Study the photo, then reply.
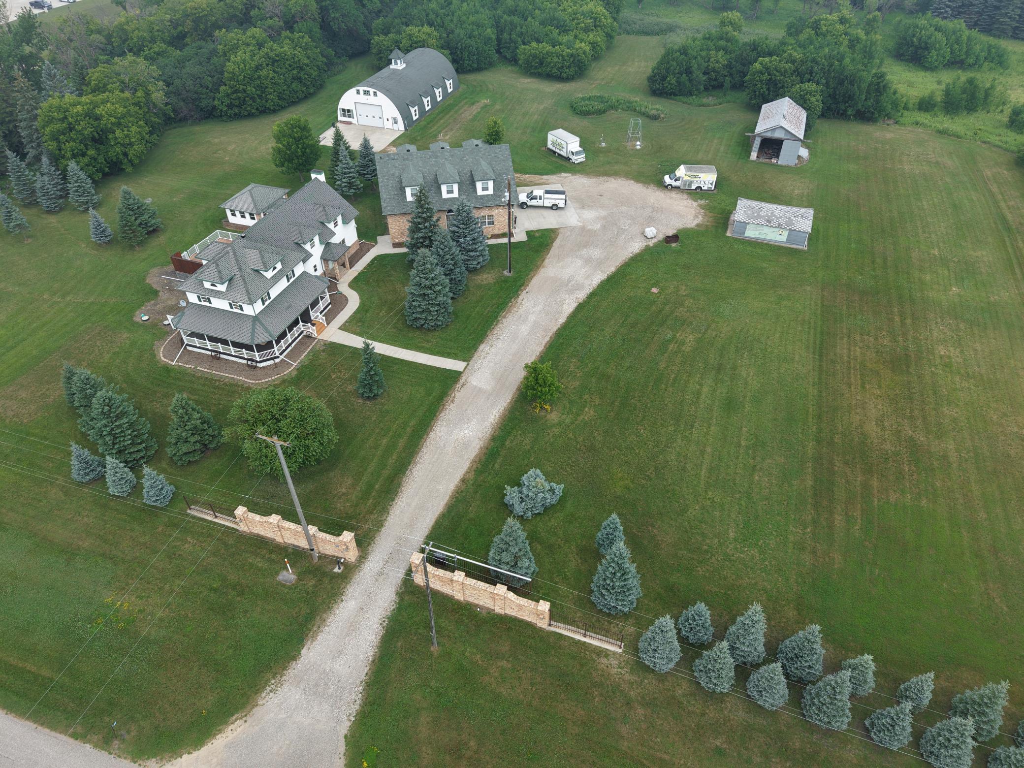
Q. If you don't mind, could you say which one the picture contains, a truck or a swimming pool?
truck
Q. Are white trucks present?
Yes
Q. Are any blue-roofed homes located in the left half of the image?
No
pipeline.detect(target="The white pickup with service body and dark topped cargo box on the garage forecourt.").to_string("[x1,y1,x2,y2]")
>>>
[516,190,567,210]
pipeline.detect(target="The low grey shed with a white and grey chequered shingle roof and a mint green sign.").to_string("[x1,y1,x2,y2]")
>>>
[727,196,815,249]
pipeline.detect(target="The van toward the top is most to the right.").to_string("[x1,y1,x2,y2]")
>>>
[662,162,715,191]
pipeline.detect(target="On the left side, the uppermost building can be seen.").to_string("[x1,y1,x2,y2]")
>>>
[336,45,457,132]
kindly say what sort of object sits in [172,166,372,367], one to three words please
house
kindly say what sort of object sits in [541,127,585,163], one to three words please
truck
